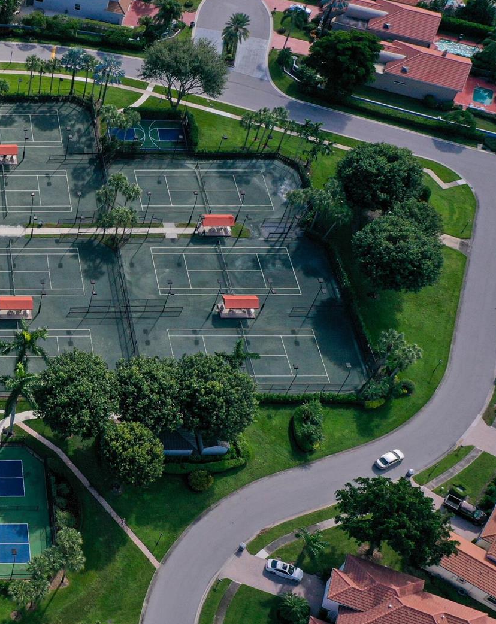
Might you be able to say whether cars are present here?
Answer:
Yes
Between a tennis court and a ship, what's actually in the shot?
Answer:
tennis court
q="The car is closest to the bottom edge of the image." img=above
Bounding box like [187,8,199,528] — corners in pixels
[266,557,304,582]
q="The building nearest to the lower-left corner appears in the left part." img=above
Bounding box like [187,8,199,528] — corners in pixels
[161,418,229,456]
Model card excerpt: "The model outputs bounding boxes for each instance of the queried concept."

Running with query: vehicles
[442,493,488,523]
[266,557,304,582]
[289,0,313,14]
[375,448,406,469]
